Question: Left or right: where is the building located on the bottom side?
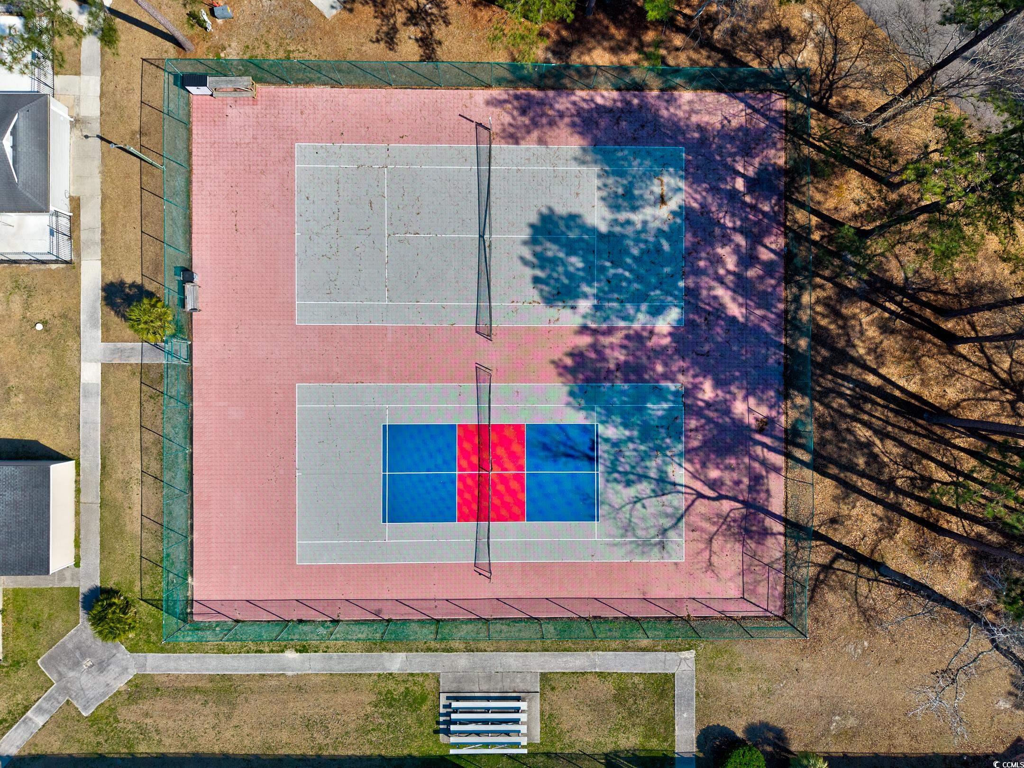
left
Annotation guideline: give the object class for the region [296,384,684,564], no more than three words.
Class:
tennis court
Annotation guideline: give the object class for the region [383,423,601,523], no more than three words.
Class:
sports court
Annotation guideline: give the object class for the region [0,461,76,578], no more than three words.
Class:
building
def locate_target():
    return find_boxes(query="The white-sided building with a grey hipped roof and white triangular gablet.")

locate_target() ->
[0,93,75,220]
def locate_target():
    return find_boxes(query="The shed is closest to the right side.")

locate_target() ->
[184,74,216,96]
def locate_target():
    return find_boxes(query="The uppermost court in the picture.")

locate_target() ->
[295,144,684,325]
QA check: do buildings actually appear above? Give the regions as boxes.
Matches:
[0,93,75,220]
[0,461,76,578]
[184,74,216,96]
